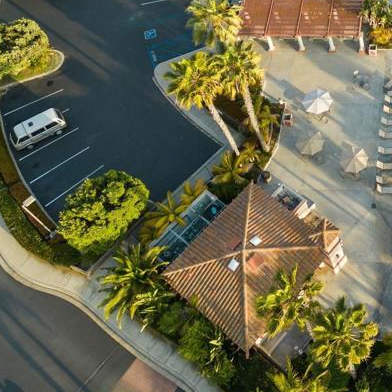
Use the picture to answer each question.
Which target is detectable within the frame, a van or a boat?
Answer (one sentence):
Of the two, only a van appears.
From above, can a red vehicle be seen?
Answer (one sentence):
No, no red vehicle is visible in the scene.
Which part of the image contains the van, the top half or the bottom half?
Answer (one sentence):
The van is in the top half of the image.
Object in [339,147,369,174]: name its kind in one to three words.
umbrella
